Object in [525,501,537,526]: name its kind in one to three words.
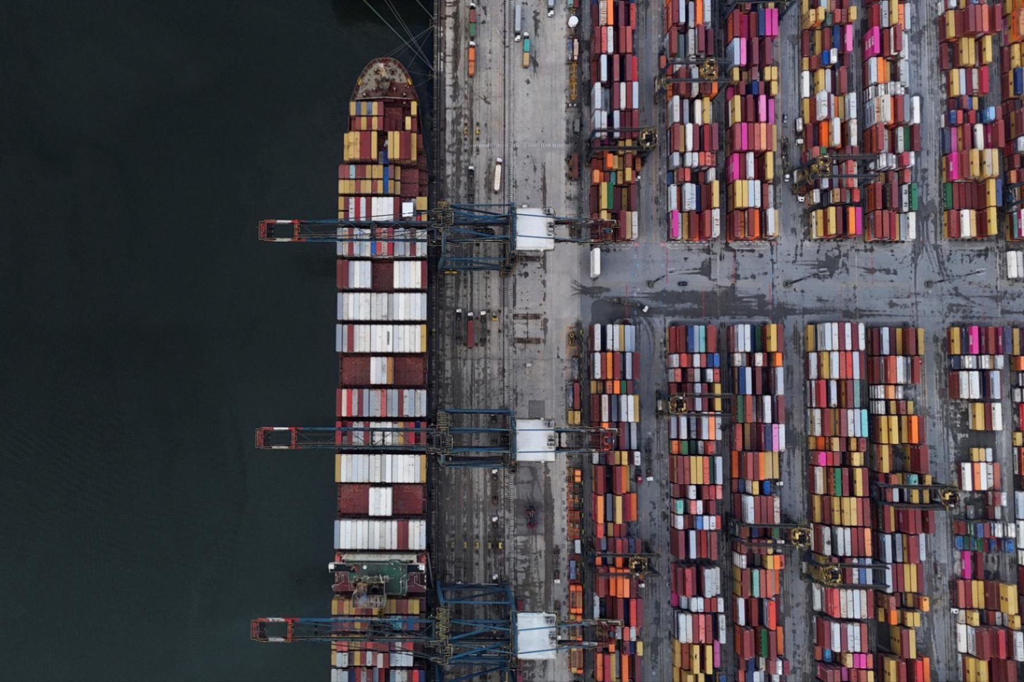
vehicle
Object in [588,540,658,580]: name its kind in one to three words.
container crane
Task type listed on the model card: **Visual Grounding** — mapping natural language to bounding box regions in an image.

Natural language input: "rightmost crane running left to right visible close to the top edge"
[722,0,799,28]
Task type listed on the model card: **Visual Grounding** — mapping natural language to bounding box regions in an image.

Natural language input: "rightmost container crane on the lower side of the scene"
[867,476,957,511]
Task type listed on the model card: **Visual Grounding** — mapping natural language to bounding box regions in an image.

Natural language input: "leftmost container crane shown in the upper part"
[257,198,620,284]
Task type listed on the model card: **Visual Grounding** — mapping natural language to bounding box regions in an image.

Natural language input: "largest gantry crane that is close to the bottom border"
[250,560,624,672]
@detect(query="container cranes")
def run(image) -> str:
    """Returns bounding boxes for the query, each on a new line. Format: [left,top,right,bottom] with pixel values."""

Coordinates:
[660,391,735,420]
[729,513,808,550]
[588,540,658,580]
[867,476,957,511]
[587,127,656,166]
[250,560,624,672]
[658,59,731,102]
[253,397,622,474]
[804,551,888,592]
[257,198,620,284]
[722,0,799,28]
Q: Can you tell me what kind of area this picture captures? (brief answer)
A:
port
